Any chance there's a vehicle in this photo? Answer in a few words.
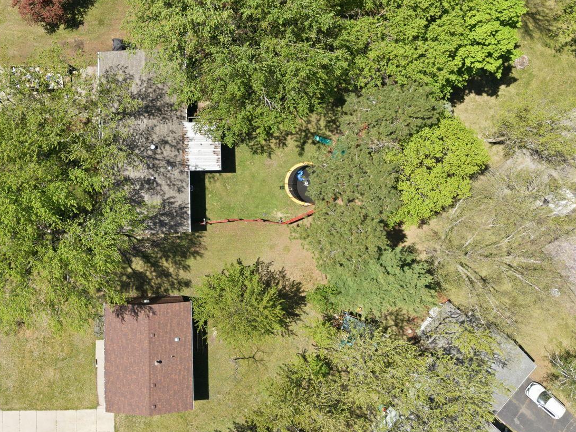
Yes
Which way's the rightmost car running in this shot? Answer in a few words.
at an angle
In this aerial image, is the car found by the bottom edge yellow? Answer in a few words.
No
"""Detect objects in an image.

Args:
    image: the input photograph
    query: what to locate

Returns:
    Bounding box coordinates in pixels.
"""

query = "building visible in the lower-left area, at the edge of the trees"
[102,298,195,416]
